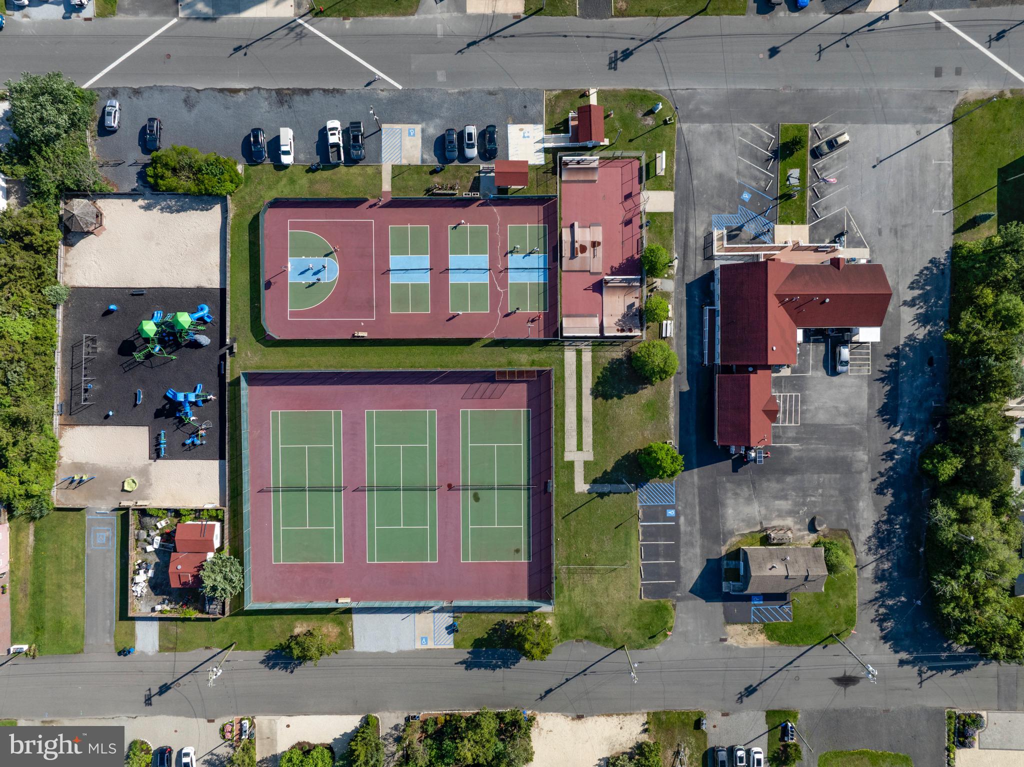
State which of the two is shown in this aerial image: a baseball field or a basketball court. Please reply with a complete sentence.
There is a basketball court in the scene.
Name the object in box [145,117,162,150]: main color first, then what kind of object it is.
black car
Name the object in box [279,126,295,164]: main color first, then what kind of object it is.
white vehicle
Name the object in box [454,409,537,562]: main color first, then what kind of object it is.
green tennis court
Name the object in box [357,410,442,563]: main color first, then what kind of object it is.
green tennis court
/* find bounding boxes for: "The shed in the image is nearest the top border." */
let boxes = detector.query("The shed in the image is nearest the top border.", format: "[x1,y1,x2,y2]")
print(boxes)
[544,104,608,147]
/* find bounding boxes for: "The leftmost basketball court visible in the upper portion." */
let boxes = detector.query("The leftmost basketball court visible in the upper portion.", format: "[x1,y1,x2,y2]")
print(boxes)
[288,220,375,320]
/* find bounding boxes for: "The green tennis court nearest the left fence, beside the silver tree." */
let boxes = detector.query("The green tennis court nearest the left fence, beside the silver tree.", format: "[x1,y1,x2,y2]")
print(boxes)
[261,410,347,563]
